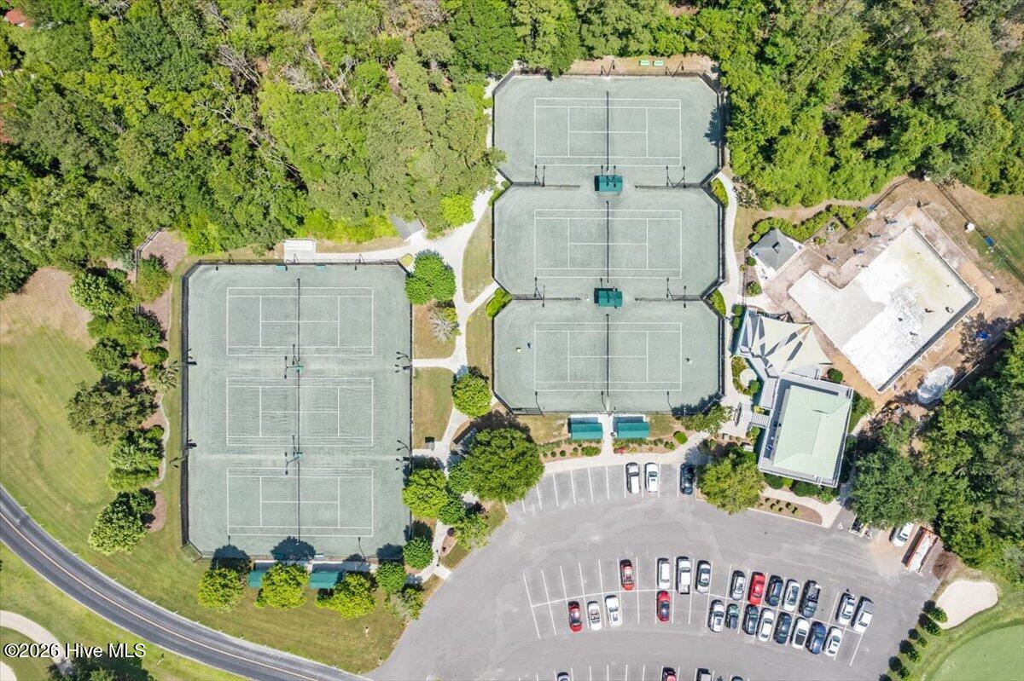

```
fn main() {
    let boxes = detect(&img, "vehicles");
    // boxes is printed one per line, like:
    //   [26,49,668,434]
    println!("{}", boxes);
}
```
[823,625,841,657]
[676,557,692,595]
[890,519,916,548]
[725,603,740,630]
[558,674,570,681]
[657,557,671,589]
[782,579,799,610]
[791,619,808,647]
[708,600,725,632]
[730,571,745,598]
[851,596,876,634]
[766,575,784,606]
[697,671,712,681]
[645,462,659,493]
[757,608,774,640]
[774,612,792,644]
[568,602,582,630]
[741,604,759,636]
[800,579,820,617]
[606,595,621,627]
[807,622,827,653]
[748,572,765,604]
[695,561,710,591]
[625,462,640,495]
[679,464,694,494]
[587,601,601,631]
[657,590,671,621]
[836,593,855,624]
[621,559,636,590]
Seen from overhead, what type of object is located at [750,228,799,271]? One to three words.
building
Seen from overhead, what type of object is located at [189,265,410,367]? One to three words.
tennis court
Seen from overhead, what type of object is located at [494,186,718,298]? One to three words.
tennis court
